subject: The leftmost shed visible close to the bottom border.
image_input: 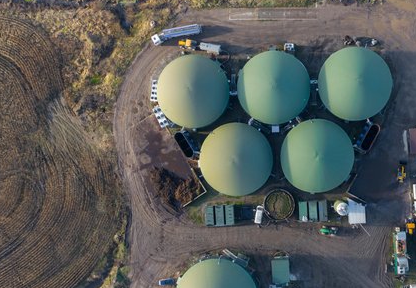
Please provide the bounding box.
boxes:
[272,256,289,284]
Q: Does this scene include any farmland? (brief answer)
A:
Yes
